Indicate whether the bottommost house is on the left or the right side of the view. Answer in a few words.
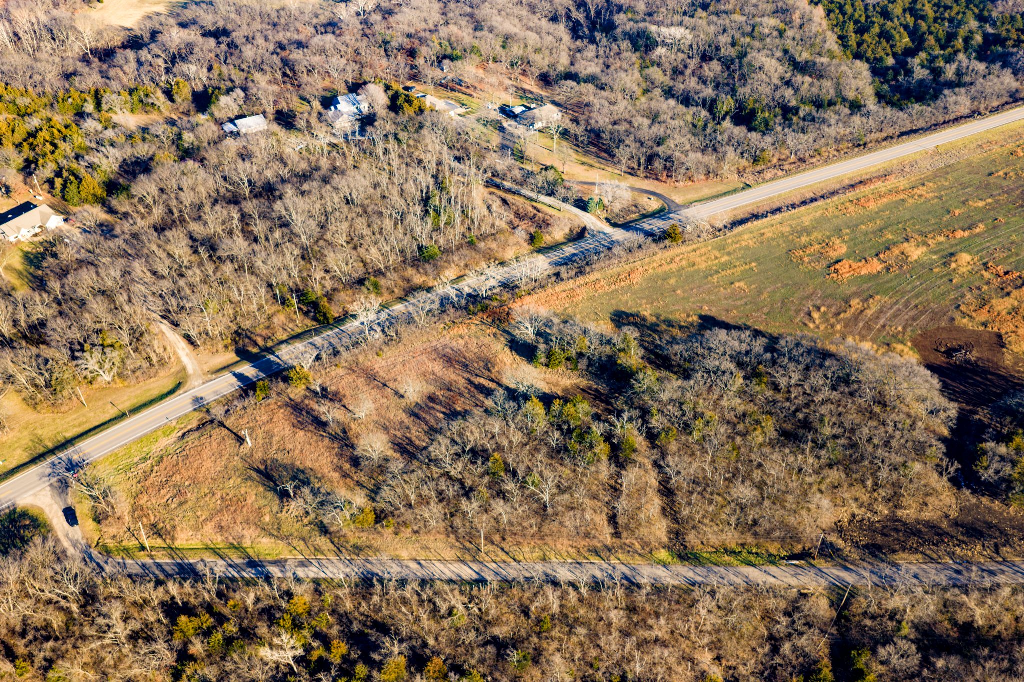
left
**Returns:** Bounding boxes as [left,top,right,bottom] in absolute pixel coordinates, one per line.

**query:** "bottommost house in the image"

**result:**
[0,203,65,248]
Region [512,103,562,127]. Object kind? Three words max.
house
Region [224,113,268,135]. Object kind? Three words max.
barn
